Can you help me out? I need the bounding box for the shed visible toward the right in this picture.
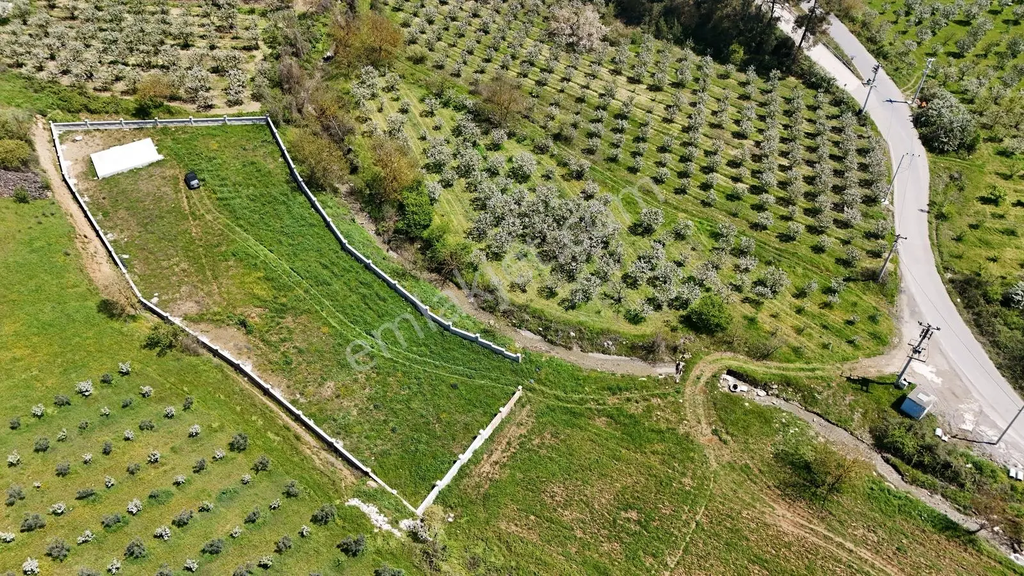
[900,387,937,422]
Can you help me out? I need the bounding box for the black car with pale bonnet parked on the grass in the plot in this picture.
[184,172,200,189]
